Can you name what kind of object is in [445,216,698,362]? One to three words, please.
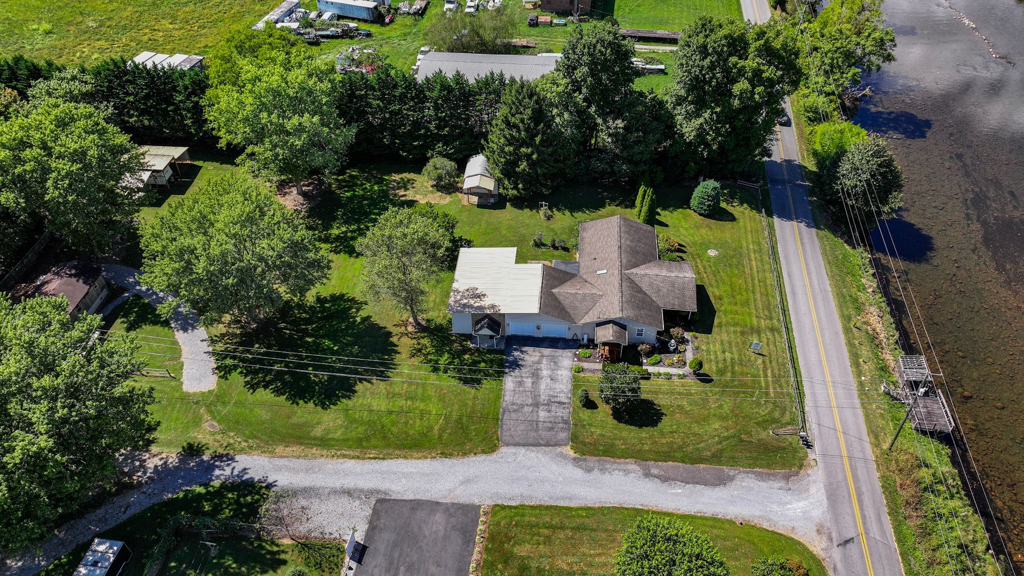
house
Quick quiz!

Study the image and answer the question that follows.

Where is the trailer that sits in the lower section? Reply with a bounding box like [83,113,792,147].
[75,536,125,576]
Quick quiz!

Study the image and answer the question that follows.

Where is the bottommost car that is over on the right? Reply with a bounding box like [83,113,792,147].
[778,107,792,124]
